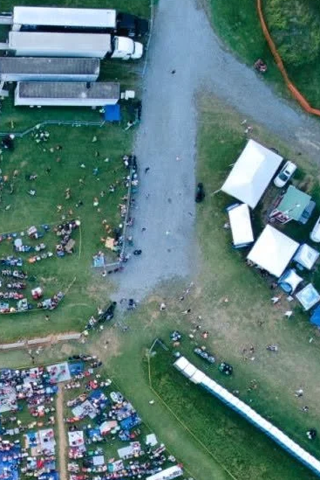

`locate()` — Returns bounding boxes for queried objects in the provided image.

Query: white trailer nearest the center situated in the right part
[222,204,254,254]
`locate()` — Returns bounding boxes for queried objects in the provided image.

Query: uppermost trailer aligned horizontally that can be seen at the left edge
[10,9,116,37]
